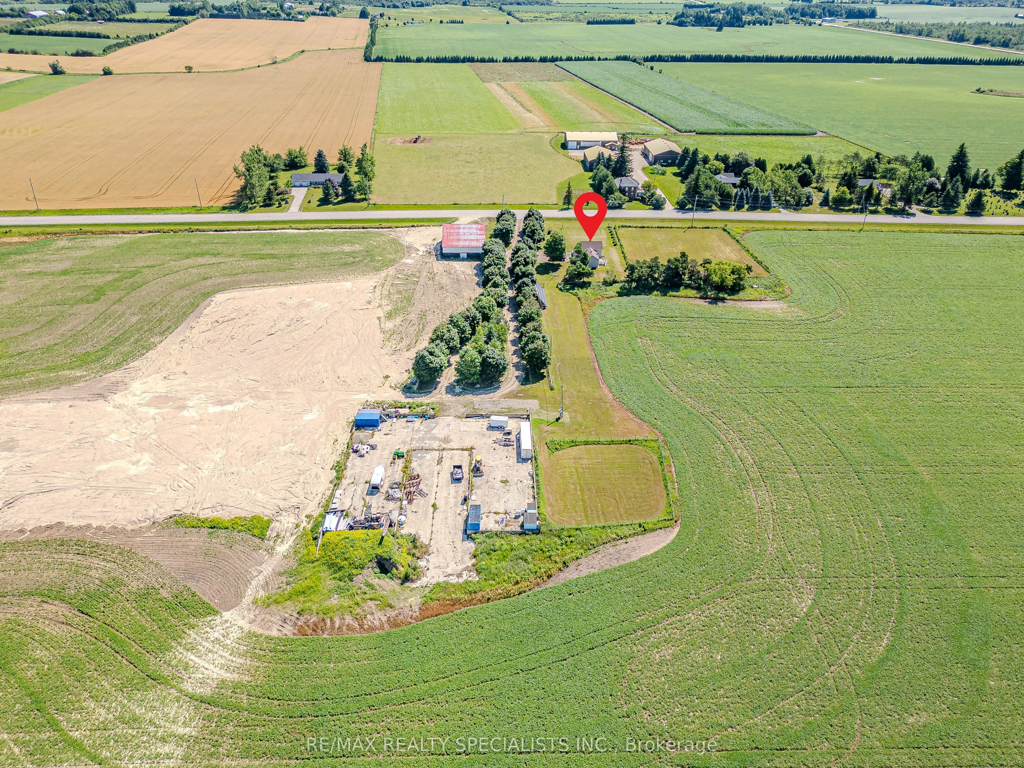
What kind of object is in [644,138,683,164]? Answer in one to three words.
barn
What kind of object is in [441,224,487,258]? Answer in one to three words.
barn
